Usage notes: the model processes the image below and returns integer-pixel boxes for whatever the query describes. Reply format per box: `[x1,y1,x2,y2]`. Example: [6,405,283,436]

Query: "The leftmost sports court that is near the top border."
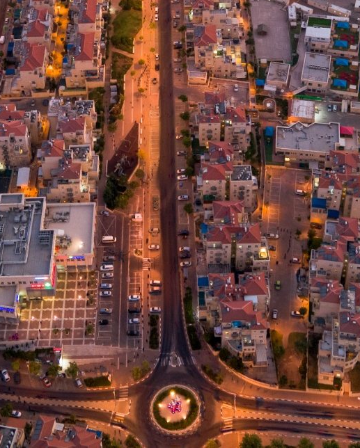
[251,0,290,59]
